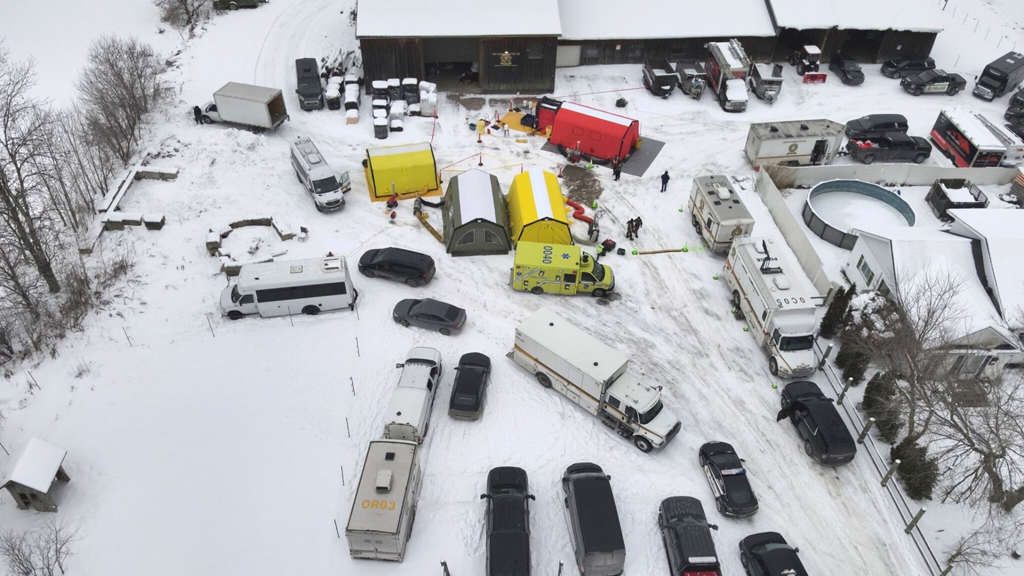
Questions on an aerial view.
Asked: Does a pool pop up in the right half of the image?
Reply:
Yes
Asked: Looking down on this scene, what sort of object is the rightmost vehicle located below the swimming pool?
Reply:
car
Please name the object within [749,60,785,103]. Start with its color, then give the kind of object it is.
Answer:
gray trailer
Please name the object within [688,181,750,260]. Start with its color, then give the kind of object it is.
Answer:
gray trailer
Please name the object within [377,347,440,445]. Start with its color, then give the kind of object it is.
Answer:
white truck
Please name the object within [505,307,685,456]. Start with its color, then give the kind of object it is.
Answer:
white truck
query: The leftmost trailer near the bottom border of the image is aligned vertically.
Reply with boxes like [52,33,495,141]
[350,443,421,565]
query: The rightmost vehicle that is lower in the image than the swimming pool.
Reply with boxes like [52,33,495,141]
[780,385,854,463]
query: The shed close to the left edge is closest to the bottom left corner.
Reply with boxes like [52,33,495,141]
[0,442,75,513]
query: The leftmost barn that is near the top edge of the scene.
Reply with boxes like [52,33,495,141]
[349,0,565,94]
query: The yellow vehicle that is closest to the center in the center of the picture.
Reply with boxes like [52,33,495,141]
[509,243,615,296]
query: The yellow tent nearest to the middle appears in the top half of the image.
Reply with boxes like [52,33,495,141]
[505,166,577,248]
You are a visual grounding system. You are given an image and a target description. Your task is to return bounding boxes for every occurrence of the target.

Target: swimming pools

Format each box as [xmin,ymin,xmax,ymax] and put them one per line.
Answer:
[802,178,923,249]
